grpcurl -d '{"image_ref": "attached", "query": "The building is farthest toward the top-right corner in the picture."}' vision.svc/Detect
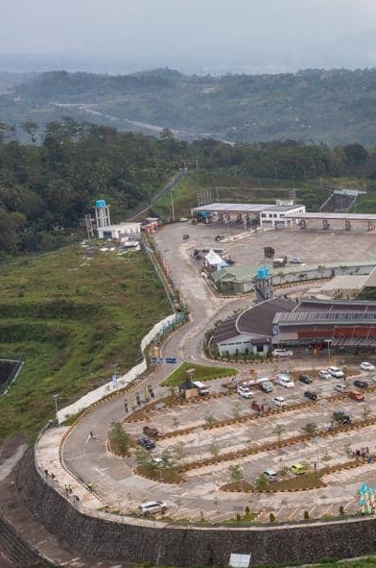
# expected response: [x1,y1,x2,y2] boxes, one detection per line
[259,199,306,230]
